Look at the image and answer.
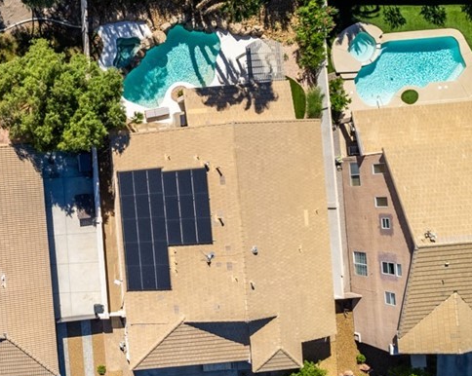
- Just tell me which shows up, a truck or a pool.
pool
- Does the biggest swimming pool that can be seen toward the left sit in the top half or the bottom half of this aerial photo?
top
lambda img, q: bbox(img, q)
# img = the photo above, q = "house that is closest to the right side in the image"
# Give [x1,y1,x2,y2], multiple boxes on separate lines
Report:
[337,97,472,360]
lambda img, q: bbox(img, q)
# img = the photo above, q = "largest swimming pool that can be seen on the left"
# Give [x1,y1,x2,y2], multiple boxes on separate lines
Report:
[123,25,220,107]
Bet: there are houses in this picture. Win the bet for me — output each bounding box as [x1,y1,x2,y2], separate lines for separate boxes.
[0,144,61,376]
[337,97,472,360]
[112,79,337,375]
